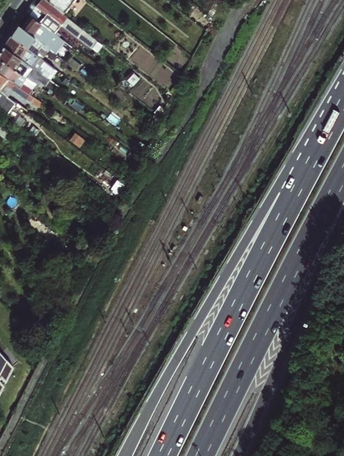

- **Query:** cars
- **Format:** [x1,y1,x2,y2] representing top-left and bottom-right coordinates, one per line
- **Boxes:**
[239,310,246,320]
[158,432,166,442]
[286,177,294,188]
[317,155,326,167]
[176,434,184,446]
[282,224,290,234]
[224,316,232,326]
[272,321,280,333]
[254,276,262,288]
[226,334,234,346]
